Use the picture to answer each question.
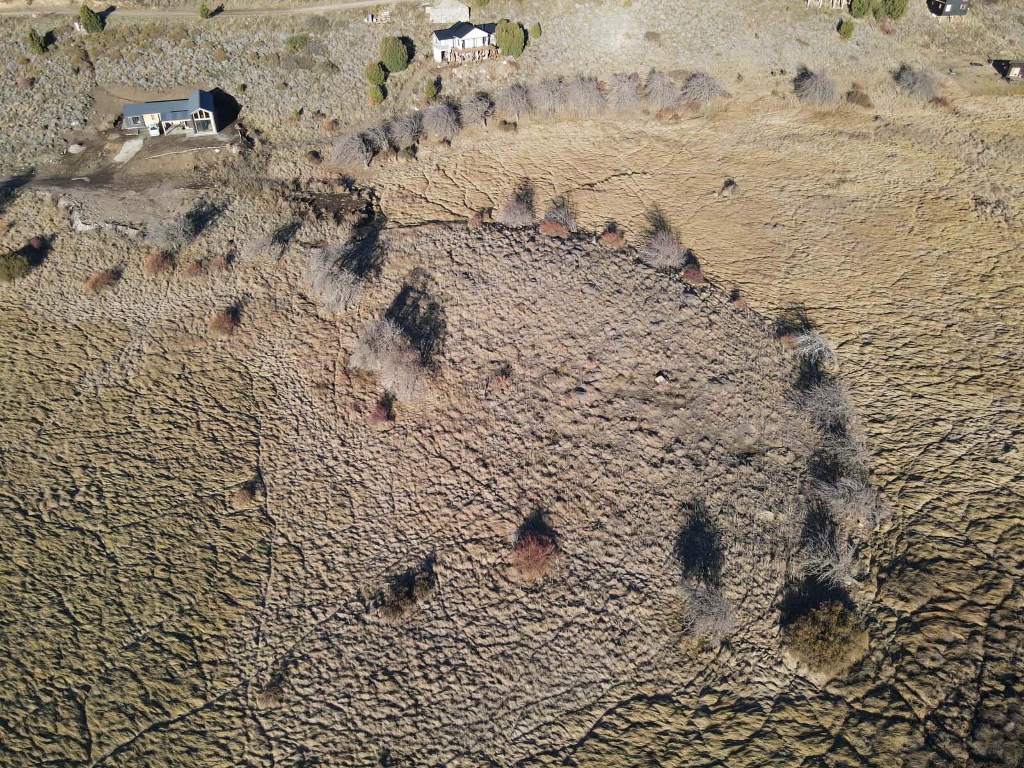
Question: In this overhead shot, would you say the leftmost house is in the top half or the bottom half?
top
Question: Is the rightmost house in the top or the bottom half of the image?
top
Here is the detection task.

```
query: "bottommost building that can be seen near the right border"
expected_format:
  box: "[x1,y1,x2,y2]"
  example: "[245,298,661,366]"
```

[993,53,1024,82]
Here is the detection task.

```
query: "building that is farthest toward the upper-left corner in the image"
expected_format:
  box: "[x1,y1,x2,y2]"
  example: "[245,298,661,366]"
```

[120,89,228,137]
